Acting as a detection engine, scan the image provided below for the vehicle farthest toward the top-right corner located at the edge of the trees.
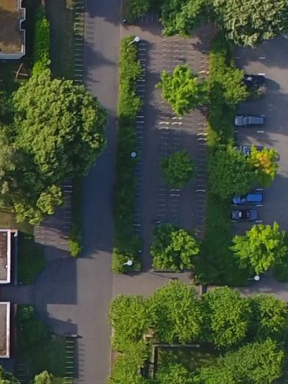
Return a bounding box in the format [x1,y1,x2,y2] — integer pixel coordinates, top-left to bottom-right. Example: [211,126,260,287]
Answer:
[242,73,269,89]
